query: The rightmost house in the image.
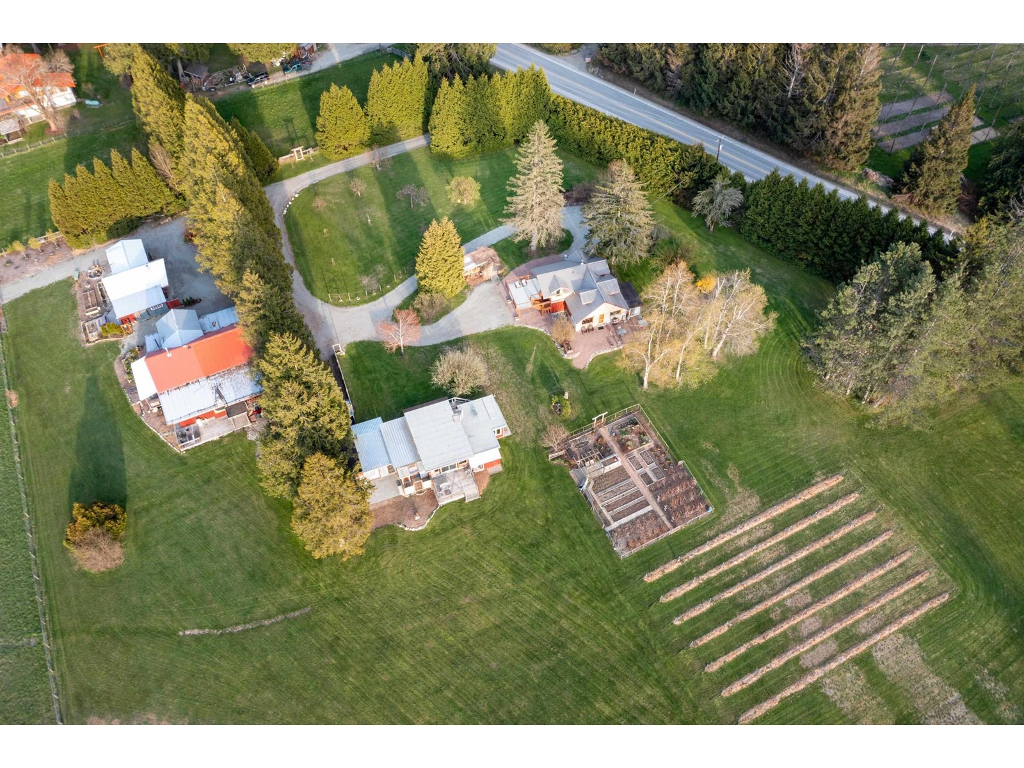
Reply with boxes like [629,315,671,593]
[506,249,642,330]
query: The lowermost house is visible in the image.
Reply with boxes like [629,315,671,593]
[353,395,513,510]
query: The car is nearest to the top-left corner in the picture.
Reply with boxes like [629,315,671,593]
[244,69,271,85]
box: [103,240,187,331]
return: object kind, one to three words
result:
shed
